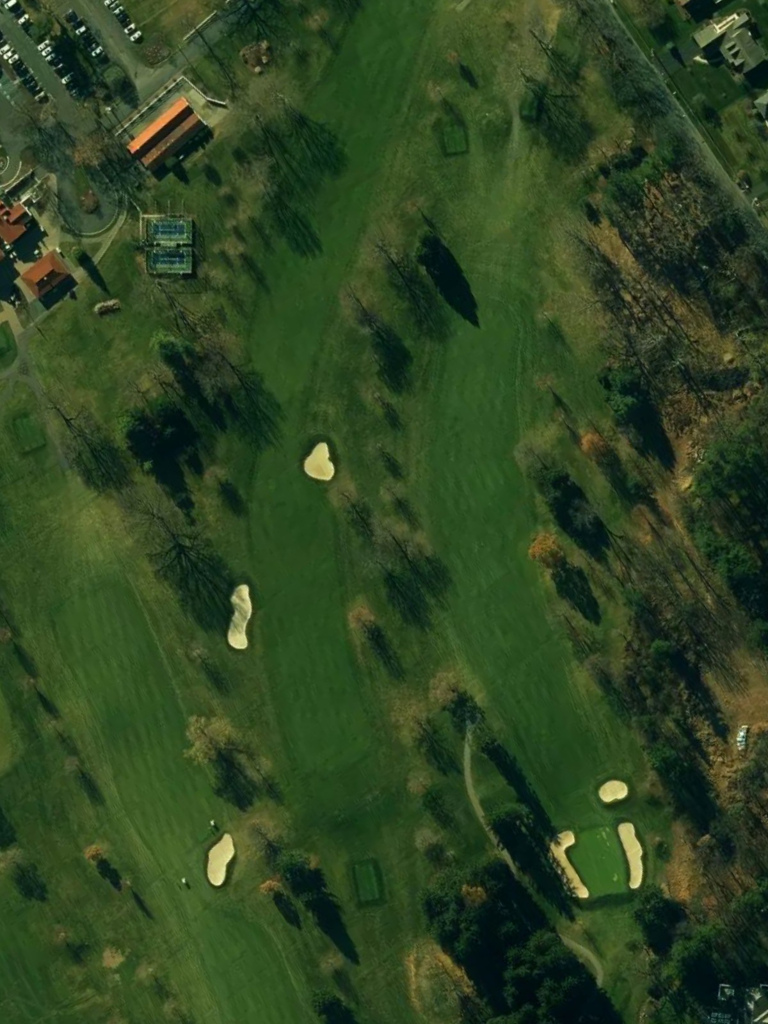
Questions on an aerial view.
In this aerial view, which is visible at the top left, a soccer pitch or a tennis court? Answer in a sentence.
The feature located at the top left is a tennis court.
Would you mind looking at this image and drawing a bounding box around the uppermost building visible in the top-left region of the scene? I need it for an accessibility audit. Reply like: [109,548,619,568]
[128,97,206,171]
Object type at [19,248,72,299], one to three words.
building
